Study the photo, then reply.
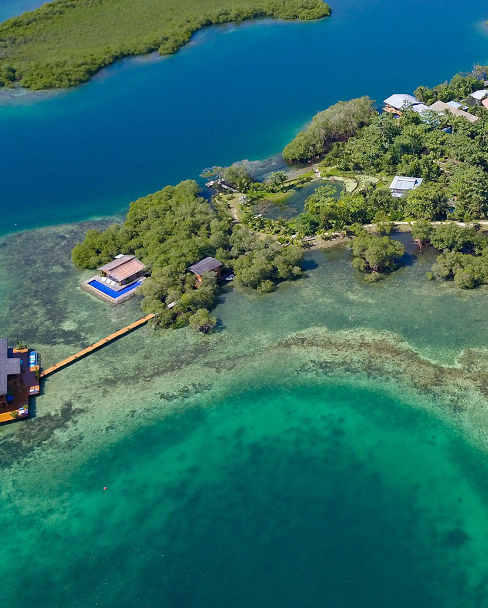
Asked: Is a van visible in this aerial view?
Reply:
No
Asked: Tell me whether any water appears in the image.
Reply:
Yes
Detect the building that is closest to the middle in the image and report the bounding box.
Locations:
[186,257,231,291]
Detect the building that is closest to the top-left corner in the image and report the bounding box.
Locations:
[96,254,147,290]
